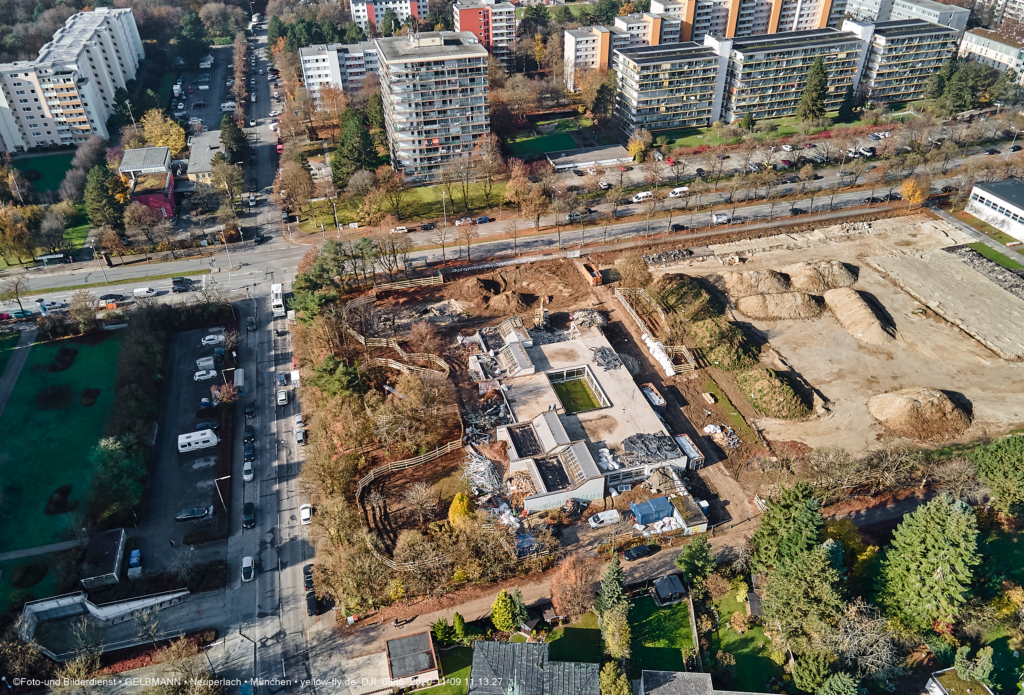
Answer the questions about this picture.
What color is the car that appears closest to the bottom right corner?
black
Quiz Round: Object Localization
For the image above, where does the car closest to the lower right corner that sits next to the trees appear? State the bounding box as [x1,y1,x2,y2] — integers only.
[623,542,651,565]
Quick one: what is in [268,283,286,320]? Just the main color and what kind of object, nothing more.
white vehicle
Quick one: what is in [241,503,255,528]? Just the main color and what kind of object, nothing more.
black car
